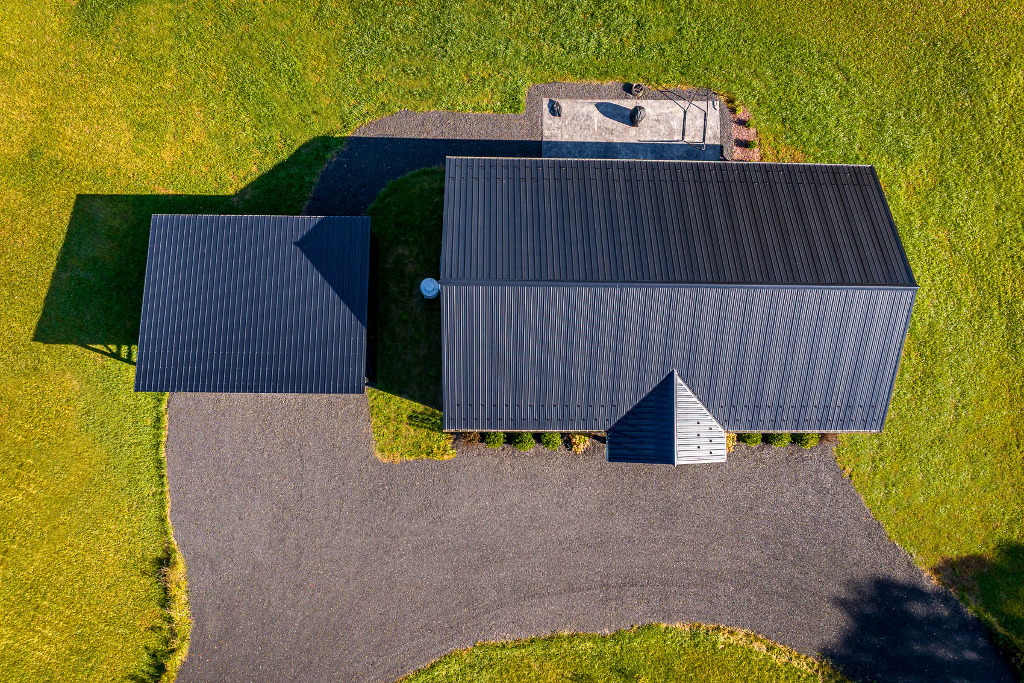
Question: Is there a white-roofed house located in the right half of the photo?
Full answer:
No, the scene shows no white-roofed house in the right half of the photo.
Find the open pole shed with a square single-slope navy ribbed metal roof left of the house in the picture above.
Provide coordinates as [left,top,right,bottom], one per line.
[135,214,379,394]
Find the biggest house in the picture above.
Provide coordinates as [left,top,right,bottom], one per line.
[439,156,922,466]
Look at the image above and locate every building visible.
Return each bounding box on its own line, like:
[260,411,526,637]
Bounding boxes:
[135,214,379,394]
[439,156,922,466]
